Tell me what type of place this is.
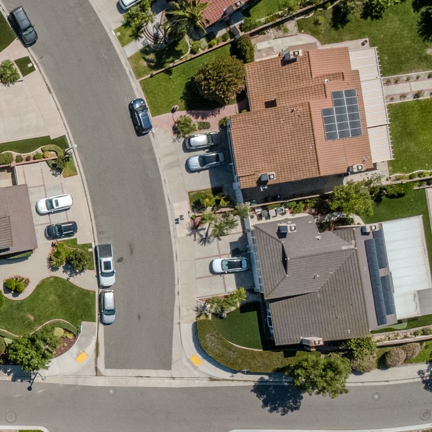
residential area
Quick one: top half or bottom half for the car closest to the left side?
top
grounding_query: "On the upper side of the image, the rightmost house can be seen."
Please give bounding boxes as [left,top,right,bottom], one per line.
[219,47,374,189]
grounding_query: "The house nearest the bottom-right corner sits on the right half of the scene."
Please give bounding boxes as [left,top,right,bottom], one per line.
[246,215,398,347]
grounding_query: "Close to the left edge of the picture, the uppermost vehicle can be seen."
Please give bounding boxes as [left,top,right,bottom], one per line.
[8,7,35,45]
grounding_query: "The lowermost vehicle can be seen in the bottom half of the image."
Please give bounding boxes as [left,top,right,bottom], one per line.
[99,290,117,324]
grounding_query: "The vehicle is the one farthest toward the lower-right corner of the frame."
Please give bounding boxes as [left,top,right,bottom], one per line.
[209,257,248,274]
